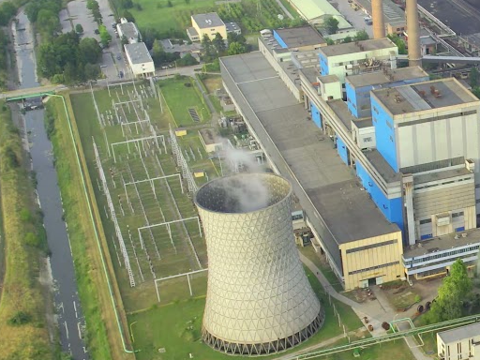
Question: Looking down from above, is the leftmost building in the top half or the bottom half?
top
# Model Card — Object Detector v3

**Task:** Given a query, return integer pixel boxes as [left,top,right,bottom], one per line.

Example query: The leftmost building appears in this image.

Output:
[101,18,138,42]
